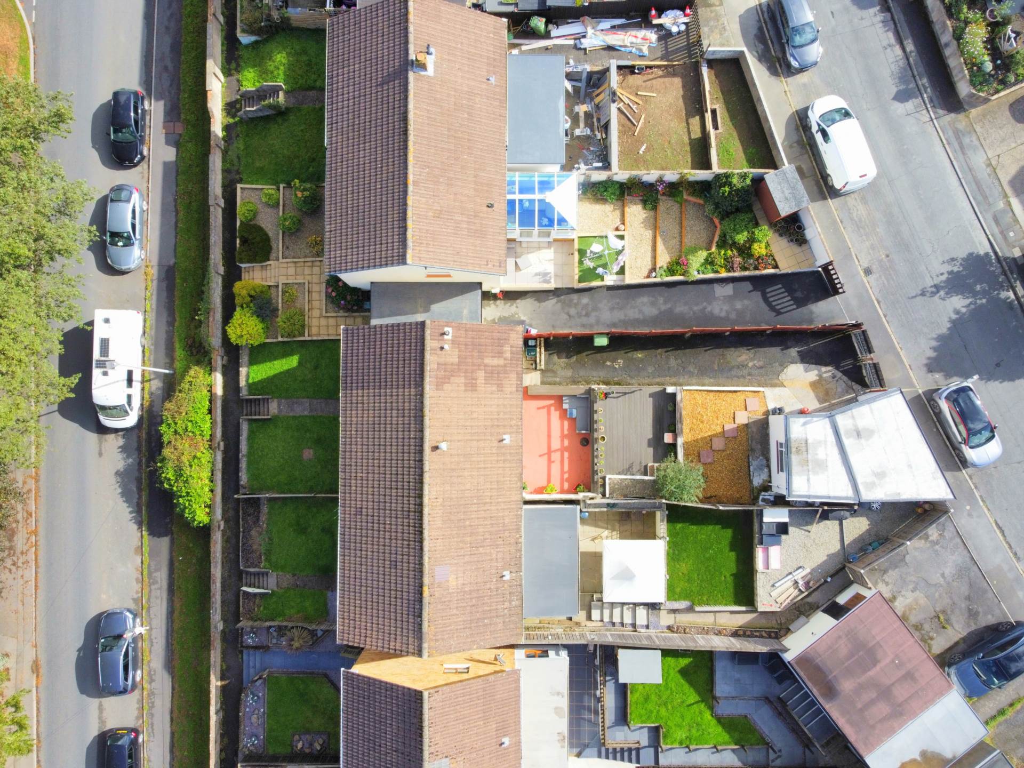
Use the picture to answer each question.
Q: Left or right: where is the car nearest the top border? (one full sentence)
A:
You can find the car nearest the top border on the right side of the picture.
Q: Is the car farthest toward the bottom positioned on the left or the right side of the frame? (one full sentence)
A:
You can find the car farthest toward the bottom on the left side of the picture.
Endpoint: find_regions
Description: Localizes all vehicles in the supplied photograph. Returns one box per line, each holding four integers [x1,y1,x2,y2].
[103,184,149,272]
[946,618,1024,698]
[103,725,147,768]
[926,385,1002,469]
[803,98,880,199]
[105,88,151,166]
[771,0,829,74]
[92,308,156,428]
[93,607,143,697]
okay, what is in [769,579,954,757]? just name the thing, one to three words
building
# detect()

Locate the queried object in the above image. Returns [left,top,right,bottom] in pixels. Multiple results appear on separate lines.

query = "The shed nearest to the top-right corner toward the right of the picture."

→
[753,164,810,225]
